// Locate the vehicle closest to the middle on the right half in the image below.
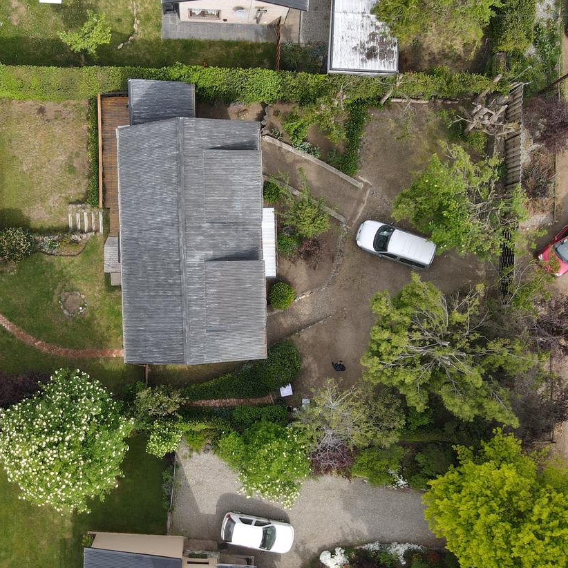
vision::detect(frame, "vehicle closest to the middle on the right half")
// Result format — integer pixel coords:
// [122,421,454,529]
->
[353,220,438,270]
